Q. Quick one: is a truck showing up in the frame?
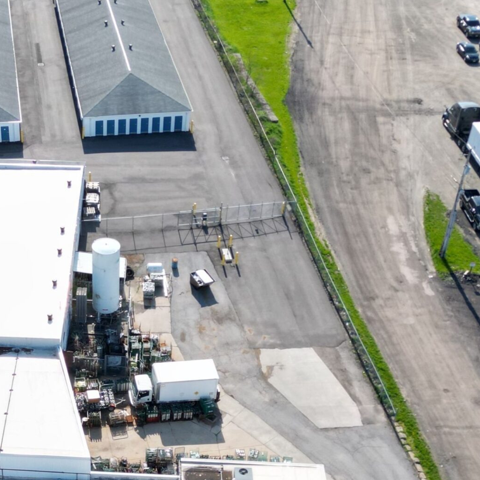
Yes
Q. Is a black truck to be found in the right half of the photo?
Yes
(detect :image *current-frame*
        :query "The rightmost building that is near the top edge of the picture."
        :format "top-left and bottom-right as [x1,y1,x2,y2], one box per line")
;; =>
[55,0,194,137]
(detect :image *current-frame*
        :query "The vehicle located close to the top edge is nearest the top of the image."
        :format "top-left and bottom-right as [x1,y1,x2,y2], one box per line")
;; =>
[452,14,480,37]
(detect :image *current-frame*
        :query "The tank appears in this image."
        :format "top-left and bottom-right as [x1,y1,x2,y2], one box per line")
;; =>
[94,235,124,330]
